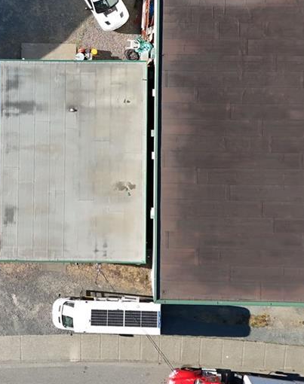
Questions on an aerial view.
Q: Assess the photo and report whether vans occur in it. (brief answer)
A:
Yes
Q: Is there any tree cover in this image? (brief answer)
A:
No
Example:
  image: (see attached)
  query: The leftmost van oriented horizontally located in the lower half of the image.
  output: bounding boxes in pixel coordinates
[53,292,160,338]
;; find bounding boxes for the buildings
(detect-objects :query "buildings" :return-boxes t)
[150,0,304,306]
[0,60,148,269]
